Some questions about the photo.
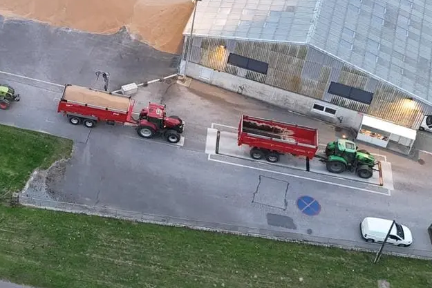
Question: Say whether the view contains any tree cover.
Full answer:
No, the picture contains no tree cover.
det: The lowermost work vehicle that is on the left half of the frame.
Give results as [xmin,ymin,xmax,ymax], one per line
[136,106,186,143]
